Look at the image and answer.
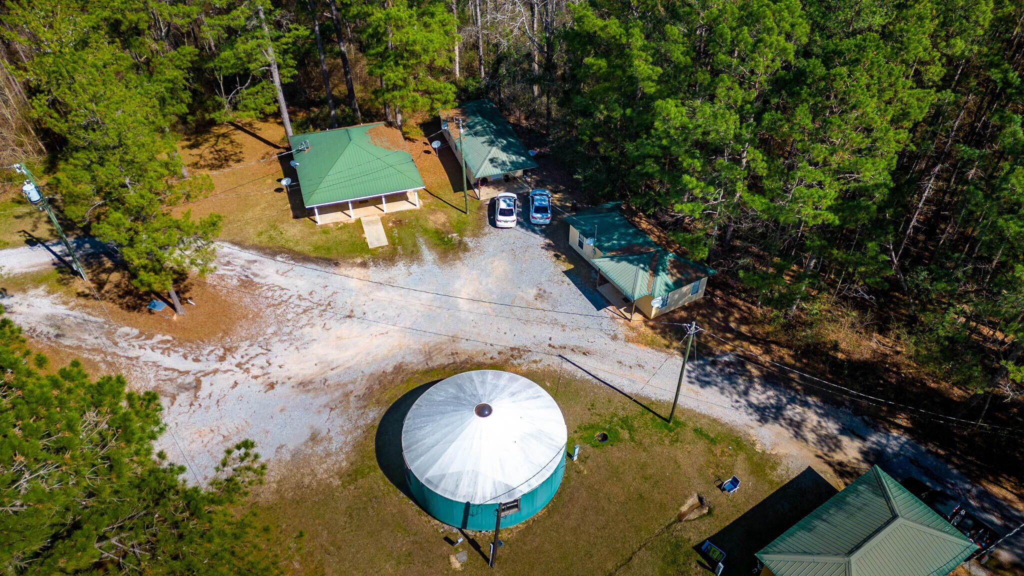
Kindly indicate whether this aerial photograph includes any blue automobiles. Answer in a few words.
Yes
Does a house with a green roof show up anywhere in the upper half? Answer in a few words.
Yes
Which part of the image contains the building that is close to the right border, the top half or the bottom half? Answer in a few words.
bottom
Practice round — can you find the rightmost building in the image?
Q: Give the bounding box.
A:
[754,463,980,576]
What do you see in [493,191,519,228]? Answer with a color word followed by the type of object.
white car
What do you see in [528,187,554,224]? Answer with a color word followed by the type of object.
blue car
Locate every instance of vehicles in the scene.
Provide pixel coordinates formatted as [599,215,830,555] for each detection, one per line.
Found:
[904,480,1024,576]
[493,191,519,228]
[528,187,554,224]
